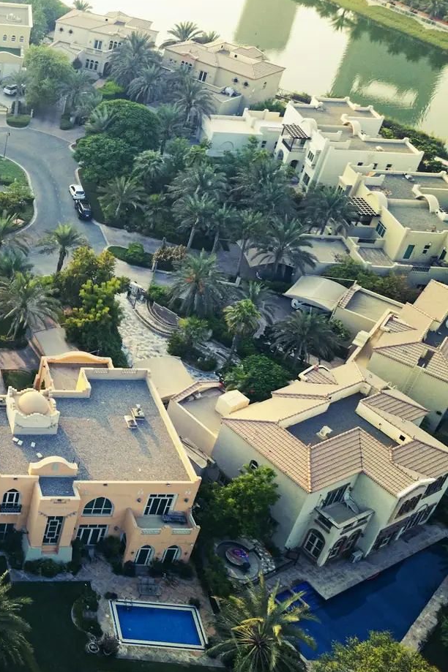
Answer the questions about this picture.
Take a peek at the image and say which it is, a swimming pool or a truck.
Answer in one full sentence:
The image shows a swimming pool.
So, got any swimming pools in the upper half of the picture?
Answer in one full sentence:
No, no swimming pool is visible in the upper half of the picture.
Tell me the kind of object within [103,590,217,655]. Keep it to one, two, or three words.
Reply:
swimming pool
